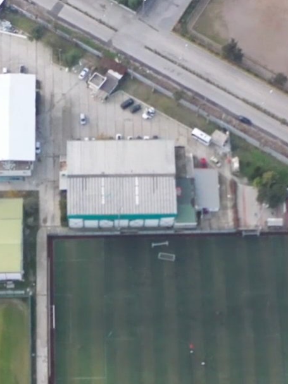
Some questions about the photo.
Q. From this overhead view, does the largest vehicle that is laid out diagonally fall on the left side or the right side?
right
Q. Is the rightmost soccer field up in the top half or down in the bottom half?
bottom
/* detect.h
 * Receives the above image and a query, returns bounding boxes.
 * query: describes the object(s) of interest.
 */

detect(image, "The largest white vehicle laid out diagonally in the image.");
[188,124,212,145]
